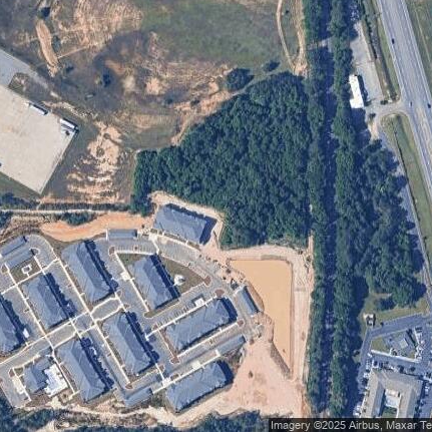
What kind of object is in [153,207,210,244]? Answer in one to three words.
building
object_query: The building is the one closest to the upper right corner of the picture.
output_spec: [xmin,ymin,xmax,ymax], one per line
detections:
[350,75,365,109]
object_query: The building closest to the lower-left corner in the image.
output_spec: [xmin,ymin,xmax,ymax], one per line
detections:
[22,355,52,392]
